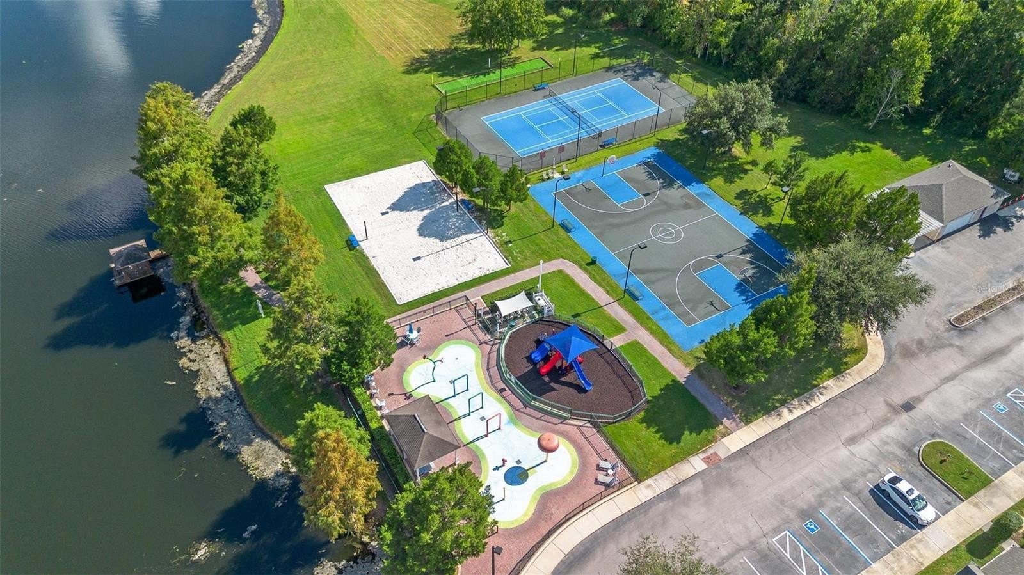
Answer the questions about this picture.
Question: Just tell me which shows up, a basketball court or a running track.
basketball court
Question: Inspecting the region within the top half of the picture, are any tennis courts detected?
Yes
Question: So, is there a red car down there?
No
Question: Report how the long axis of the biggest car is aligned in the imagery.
at an angle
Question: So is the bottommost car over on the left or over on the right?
right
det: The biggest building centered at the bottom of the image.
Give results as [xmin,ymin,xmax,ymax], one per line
[385,395,461,473]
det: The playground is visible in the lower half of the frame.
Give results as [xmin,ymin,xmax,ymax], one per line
[502,318,644,417]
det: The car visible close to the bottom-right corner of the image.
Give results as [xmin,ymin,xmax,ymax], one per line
[875,465,936,521]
